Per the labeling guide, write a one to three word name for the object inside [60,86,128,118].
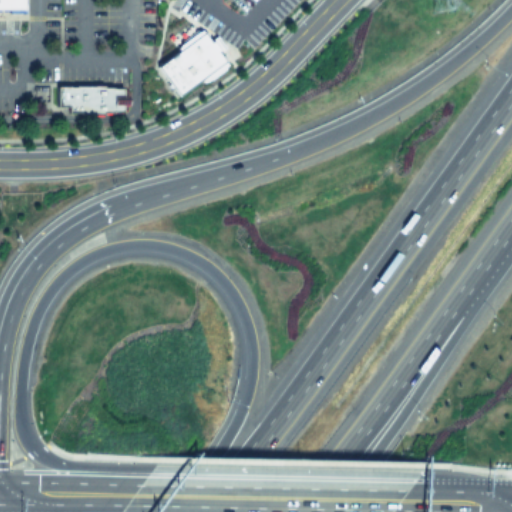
building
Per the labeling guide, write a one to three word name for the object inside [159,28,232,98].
building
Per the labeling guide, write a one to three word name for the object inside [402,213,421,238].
vehicle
